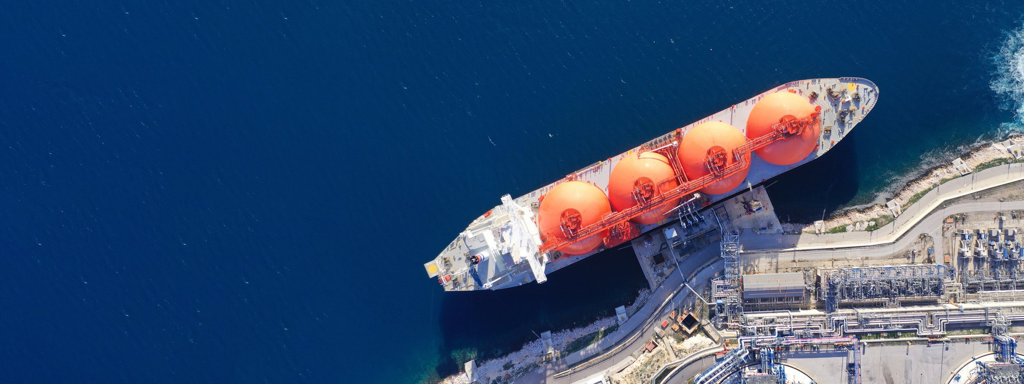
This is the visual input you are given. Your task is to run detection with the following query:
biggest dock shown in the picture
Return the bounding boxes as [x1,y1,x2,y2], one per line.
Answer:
[631,185,784,292]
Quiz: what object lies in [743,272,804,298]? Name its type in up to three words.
shed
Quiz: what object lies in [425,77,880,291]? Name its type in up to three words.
ship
